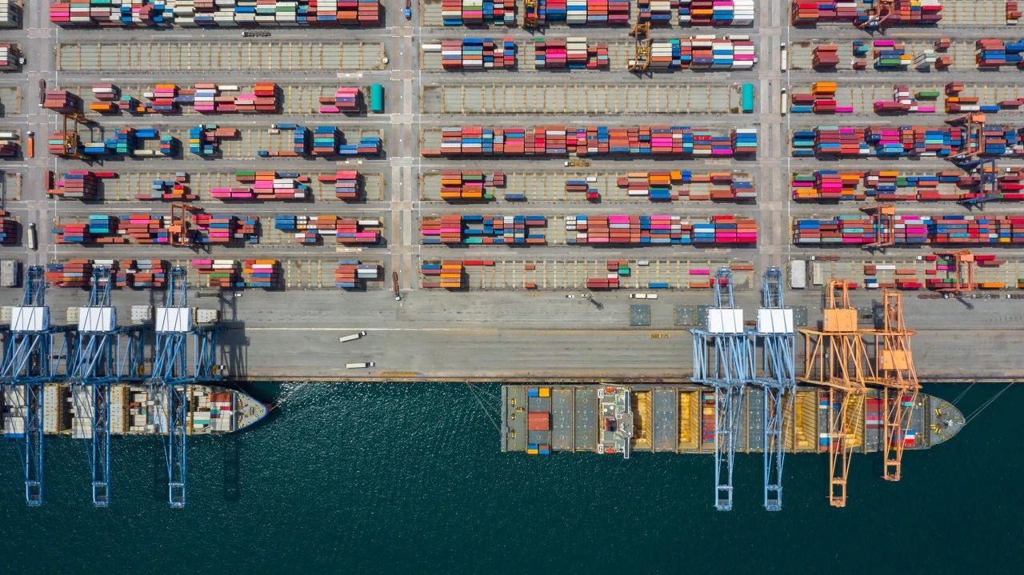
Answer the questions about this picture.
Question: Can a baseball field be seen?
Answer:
No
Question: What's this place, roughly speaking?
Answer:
port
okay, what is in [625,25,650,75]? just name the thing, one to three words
container crane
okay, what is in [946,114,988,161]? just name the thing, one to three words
container crane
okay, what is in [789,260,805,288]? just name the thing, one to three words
shed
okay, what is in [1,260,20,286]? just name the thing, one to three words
shed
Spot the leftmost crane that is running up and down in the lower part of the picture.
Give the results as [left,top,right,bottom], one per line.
[0,265,107,506]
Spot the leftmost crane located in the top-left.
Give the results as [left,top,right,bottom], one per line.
[62,114,99,161]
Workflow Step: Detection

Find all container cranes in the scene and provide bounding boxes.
[790,278,867,507]
[678,266,748,510]
[625,25,650,75]
[517,0,542,32]
[946,114,988,161]
[0,265,107,506]
[167,205,203,248]
[145,265,236,506]
[935,250,976,293]
[848,289,921,481]
[733,266,799,510]
[859,205,896,248]
[858,0,893,32]
[958,160,995,205]
[62,114,99,161]
[65,265,166,506]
